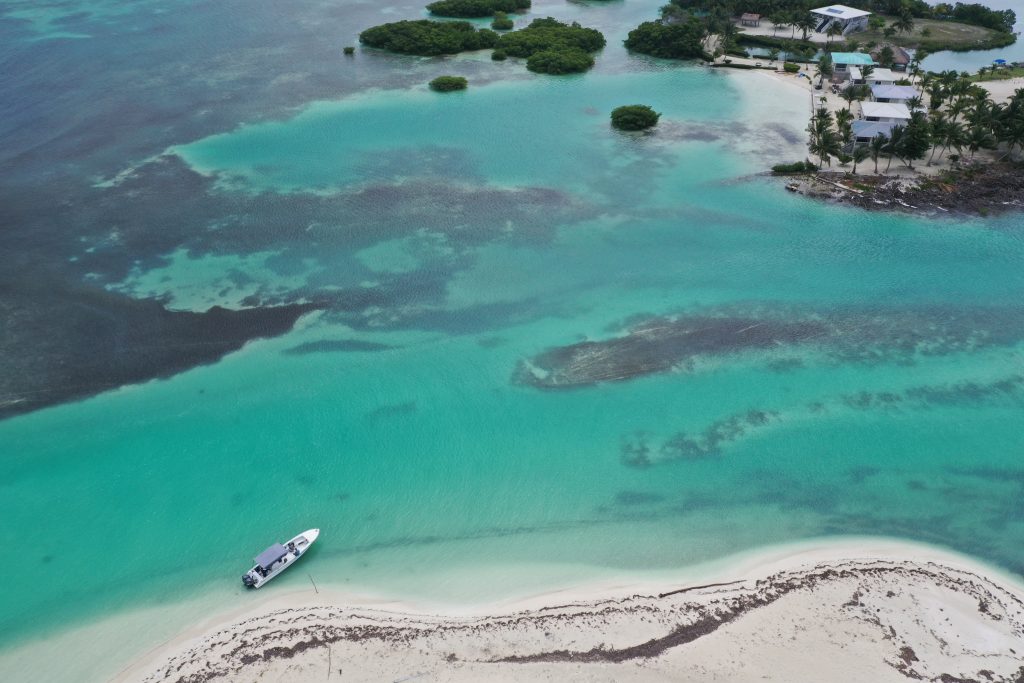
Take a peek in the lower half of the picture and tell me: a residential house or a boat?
boat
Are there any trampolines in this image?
No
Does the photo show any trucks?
No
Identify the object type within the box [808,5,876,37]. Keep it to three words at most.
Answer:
house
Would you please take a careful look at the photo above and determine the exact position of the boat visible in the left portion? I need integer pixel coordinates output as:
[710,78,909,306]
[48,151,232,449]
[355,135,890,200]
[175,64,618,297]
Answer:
[243,530,320,591]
